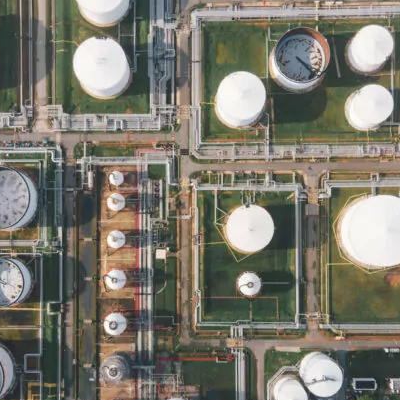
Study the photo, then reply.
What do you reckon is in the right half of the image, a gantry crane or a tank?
tank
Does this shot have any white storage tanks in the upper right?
Yes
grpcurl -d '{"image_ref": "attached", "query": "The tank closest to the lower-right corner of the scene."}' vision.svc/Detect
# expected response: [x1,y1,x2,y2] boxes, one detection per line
[297,351,346,398]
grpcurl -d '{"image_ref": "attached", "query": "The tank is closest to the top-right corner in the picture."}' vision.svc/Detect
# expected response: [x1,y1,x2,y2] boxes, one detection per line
[341,23,394,79]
